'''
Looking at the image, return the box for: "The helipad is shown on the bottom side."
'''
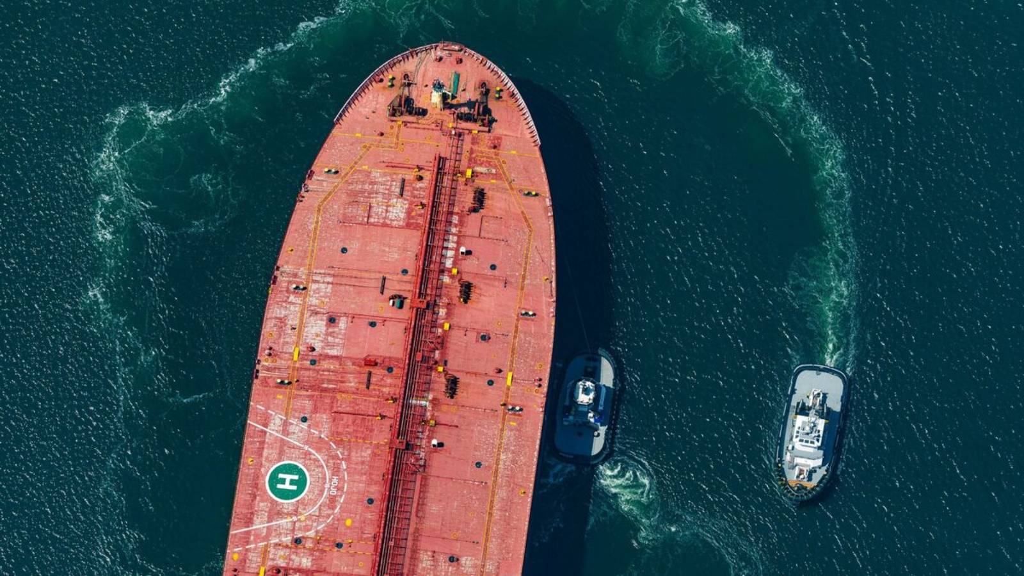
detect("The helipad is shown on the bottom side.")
[228,403,347,551]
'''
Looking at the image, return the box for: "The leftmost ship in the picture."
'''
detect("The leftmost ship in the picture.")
[222,41,557,576]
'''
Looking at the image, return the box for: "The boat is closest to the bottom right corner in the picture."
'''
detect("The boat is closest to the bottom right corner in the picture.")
[775,364,849,505]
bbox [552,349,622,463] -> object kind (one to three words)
boat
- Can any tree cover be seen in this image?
No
